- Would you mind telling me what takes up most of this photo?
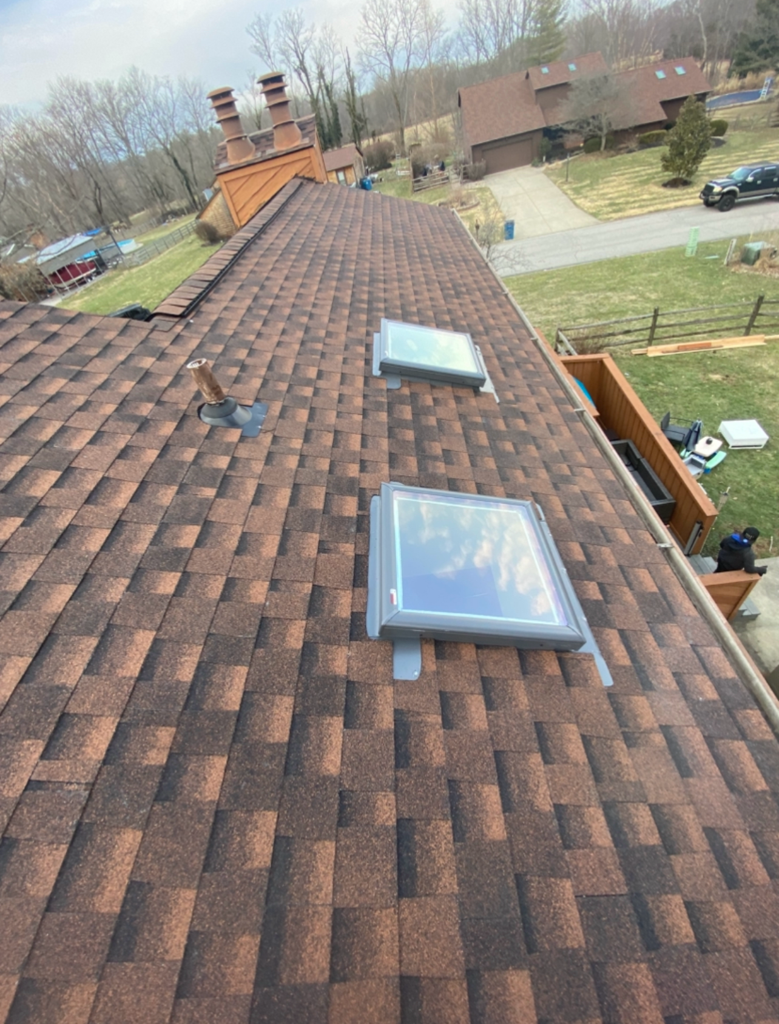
buildings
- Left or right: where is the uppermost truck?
right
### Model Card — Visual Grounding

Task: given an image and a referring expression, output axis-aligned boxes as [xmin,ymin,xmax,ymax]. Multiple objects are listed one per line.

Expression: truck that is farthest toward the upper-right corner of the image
[699,155,779,212]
